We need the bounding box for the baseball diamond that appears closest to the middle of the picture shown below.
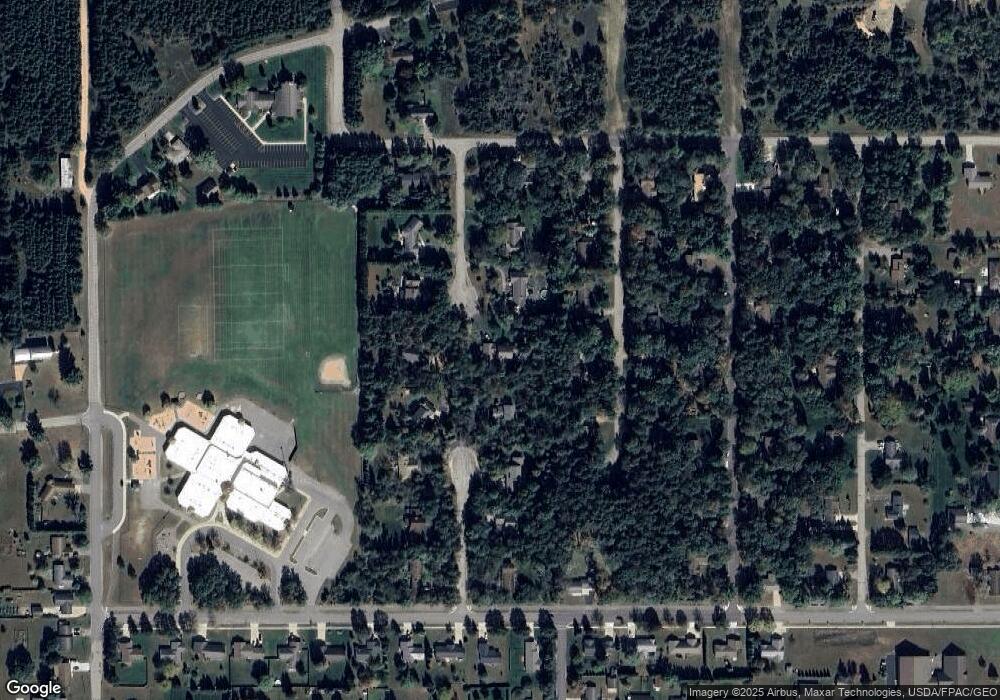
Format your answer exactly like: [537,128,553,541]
[316,353,354,391]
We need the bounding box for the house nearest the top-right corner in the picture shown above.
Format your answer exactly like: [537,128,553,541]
[965,168,993,188]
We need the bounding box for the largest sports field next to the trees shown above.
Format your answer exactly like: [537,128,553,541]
[104,197,354,404]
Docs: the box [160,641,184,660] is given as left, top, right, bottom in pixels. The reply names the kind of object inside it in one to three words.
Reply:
house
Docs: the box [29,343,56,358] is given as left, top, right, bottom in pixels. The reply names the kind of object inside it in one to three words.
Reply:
barn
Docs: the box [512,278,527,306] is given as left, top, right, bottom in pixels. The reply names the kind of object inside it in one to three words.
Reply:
house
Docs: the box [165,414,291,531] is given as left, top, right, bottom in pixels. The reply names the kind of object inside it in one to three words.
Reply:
building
